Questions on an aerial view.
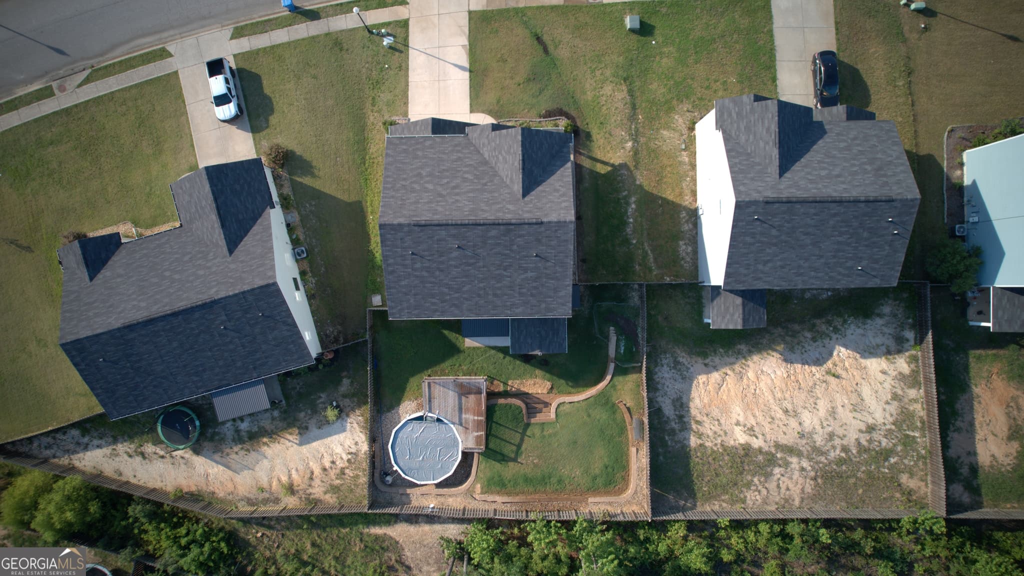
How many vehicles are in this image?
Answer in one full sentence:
The picture shows 2 vehicles.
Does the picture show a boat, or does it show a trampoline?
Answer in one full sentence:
The image shows a trampoline.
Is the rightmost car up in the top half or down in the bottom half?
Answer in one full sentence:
It is in the top half that the rightmost car appears.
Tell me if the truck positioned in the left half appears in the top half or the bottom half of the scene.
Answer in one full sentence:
The truck positioned in the left half sits in the top half of the picture.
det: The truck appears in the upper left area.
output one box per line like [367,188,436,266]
[205,57,244,127]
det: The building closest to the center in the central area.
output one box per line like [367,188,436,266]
[379,118,578,356]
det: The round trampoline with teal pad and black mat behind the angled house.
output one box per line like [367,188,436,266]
[144,402,205,456]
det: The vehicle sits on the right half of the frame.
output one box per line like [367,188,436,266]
[810,48,843,110]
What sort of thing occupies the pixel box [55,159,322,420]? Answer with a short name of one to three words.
house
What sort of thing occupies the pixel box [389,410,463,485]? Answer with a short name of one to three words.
swimming pool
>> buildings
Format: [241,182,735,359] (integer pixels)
[697,93,920,329]
[55,159,322,420]
[379,118,578,356]
[964,132,1024,332]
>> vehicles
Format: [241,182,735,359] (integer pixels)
[205,57,244,127]
[810,48,843,110]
